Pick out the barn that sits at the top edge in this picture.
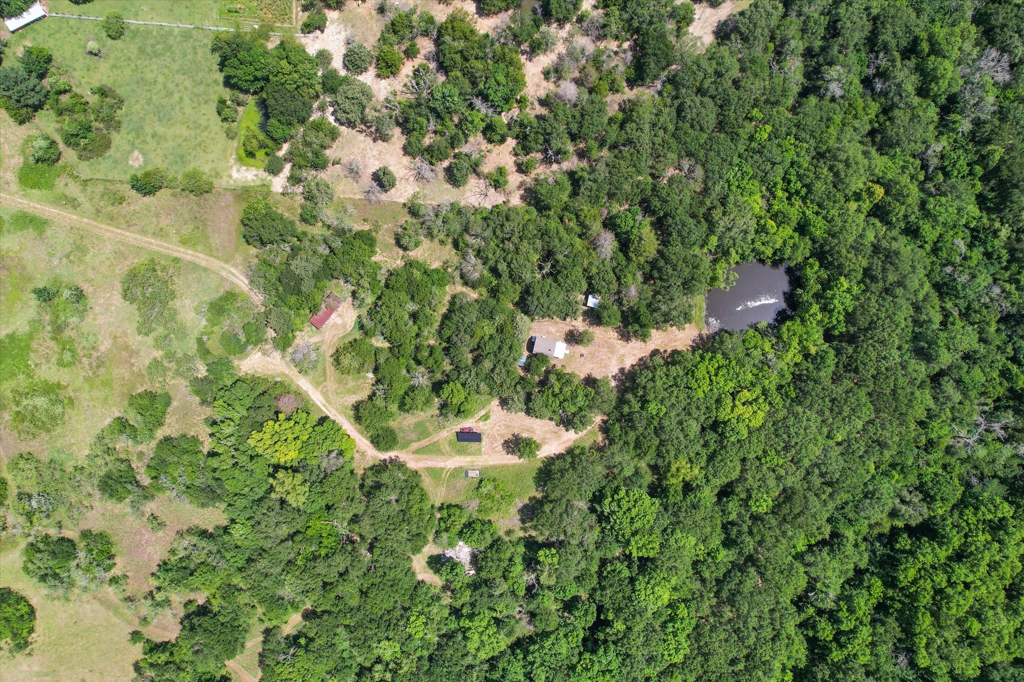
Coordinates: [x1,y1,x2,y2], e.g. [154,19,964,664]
[4,1,49,35]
